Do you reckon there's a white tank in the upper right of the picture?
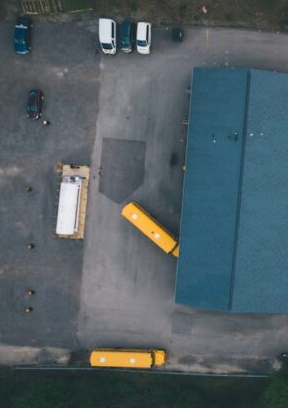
No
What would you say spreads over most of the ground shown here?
paved ground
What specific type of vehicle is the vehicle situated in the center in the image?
bus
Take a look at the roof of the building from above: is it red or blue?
blue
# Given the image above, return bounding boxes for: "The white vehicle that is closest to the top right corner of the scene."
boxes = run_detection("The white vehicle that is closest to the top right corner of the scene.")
[136,22,153,55]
